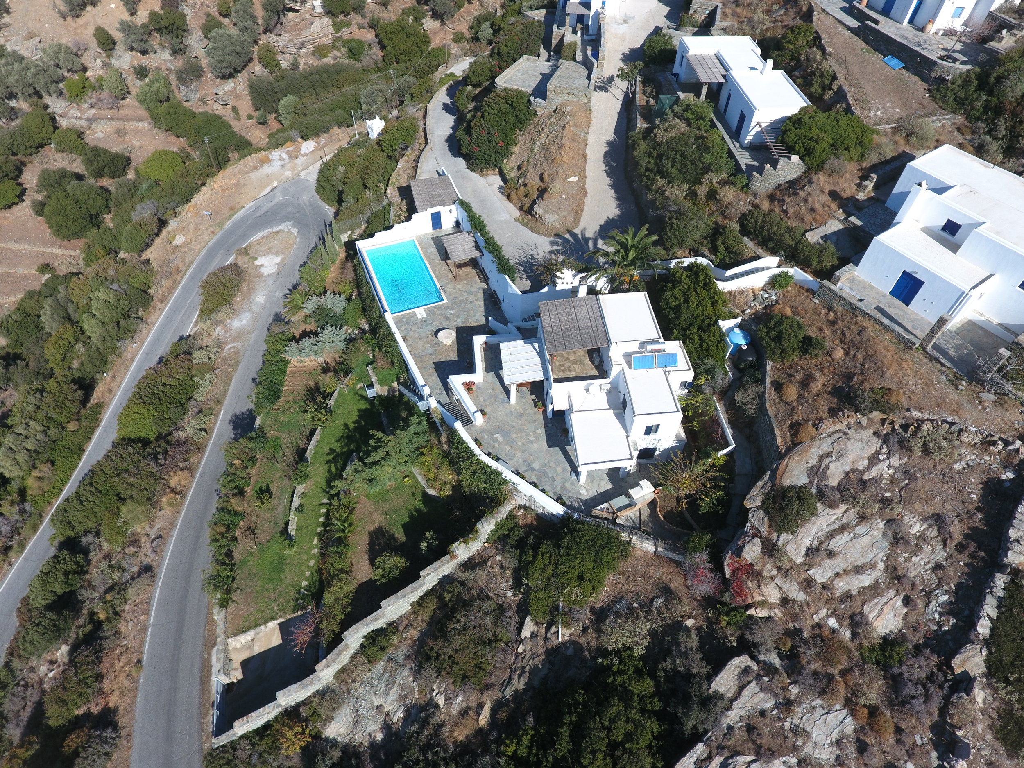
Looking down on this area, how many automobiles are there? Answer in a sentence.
The picture shows no automobiles.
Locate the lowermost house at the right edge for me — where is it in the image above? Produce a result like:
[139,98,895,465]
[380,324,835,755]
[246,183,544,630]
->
[857,144,1024,332]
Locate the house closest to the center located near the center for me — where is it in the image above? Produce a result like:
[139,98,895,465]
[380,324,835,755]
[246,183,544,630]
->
[538,292,696,483]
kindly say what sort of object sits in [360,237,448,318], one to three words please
swimming pool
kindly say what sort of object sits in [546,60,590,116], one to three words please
building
